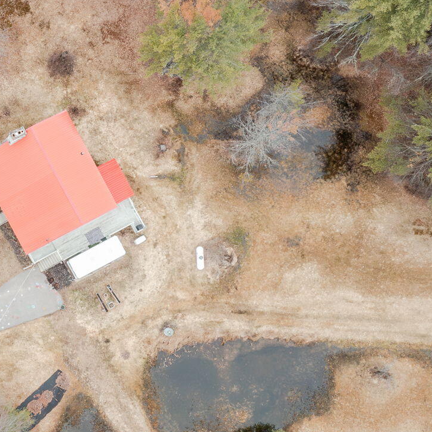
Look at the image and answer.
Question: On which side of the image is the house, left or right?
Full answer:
The house appears in the left half of the scene.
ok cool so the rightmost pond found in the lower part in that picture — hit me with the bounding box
[145,339,432,432]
